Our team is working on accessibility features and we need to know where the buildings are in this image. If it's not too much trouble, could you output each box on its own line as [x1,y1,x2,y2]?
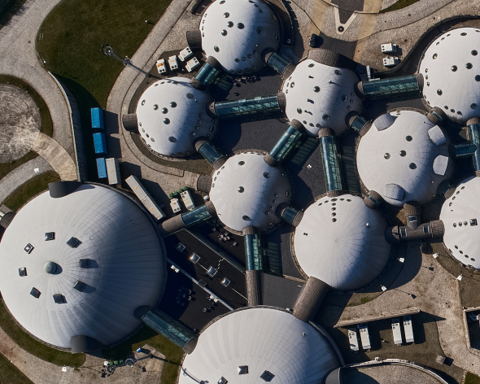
[280,48,363,140]
[0,176,167,355]
[119,76,215,156]
[418,25,480,125]
[354,108,455,208]
[438,174,480,271]
[176,308,350,384]
[291,190,394,293]
[185,0,281,74]
[198,149,293,233]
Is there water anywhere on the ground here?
No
